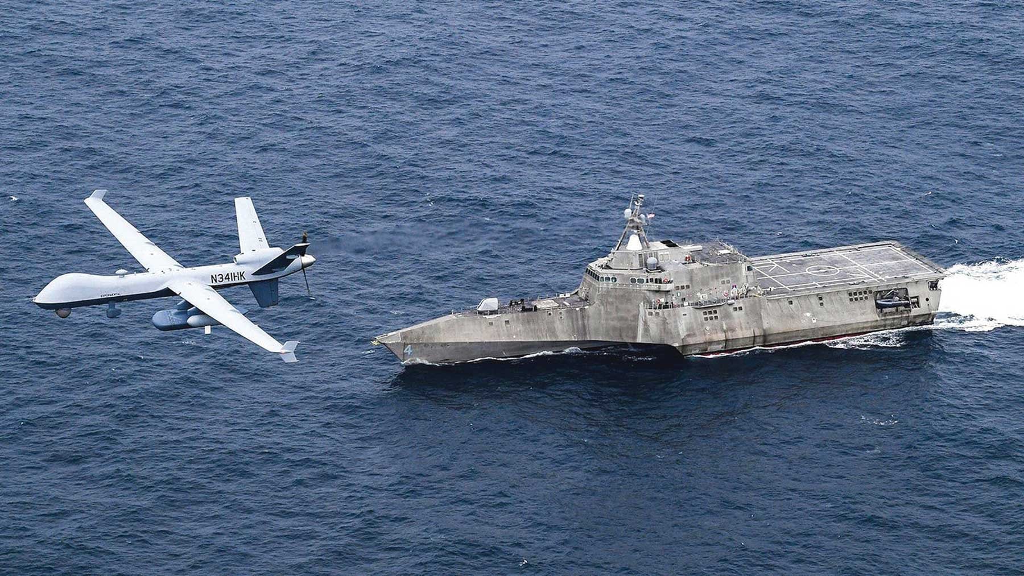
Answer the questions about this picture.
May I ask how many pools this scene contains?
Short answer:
0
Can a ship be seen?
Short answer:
Yes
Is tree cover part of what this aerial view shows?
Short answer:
No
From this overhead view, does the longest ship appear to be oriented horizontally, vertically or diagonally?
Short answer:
horizontally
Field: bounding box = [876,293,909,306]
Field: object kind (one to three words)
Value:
boat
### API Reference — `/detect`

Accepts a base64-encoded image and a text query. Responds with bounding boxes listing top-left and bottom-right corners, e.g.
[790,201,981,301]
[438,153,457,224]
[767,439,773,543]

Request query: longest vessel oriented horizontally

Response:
[371,194,950,366]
